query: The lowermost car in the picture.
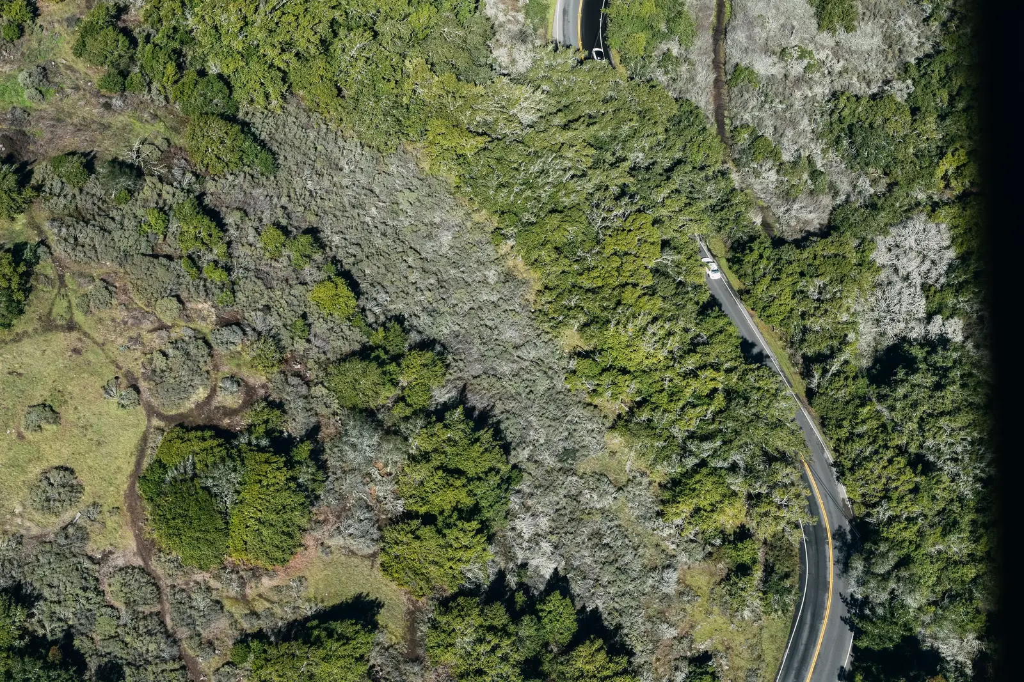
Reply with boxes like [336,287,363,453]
[701,258,719,281]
